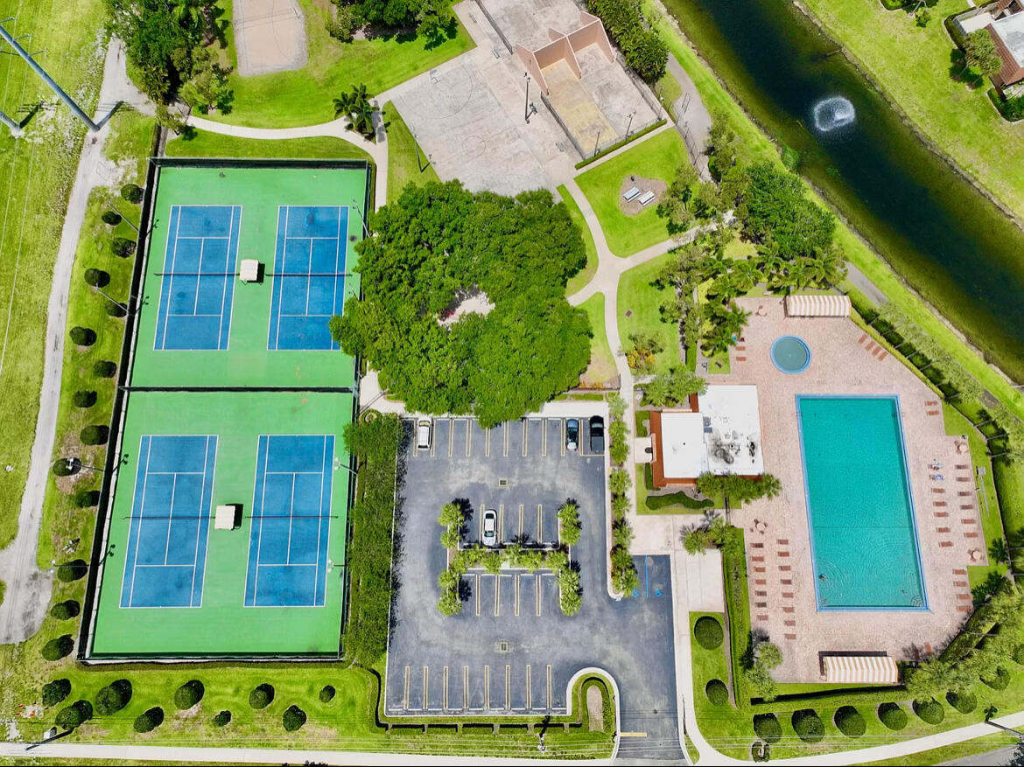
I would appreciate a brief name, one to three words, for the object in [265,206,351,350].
tennis court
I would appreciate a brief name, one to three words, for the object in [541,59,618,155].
sports court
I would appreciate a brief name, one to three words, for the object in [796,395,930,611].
swimming pool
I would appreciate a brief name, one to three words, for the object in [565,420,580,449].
car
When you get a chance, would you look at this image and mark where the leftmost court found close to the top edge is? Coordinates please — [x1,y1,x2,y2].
[230,0,307,77]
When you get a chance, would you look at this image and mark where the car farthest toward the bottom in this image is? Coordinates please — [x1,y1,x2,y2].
[482,511,497,545]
